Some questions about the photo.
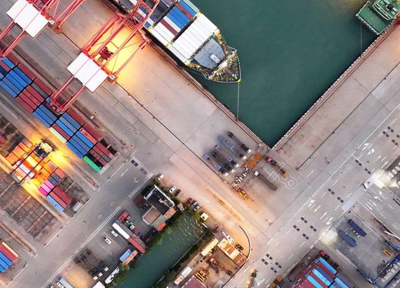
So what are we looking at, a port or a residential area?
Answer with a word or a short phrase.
port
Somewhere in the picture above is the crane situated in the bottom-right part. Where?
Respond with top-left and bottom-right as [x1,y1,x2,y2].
[356,237,400,285]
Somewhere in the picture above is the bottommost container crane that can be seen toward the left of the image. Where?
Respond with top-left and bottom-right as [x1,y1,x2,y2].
[8,138,56,186]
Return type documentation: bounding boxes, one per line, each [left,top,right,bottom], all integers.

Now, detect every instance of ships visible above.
[355,0,400,37]
[116,0,241,82]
